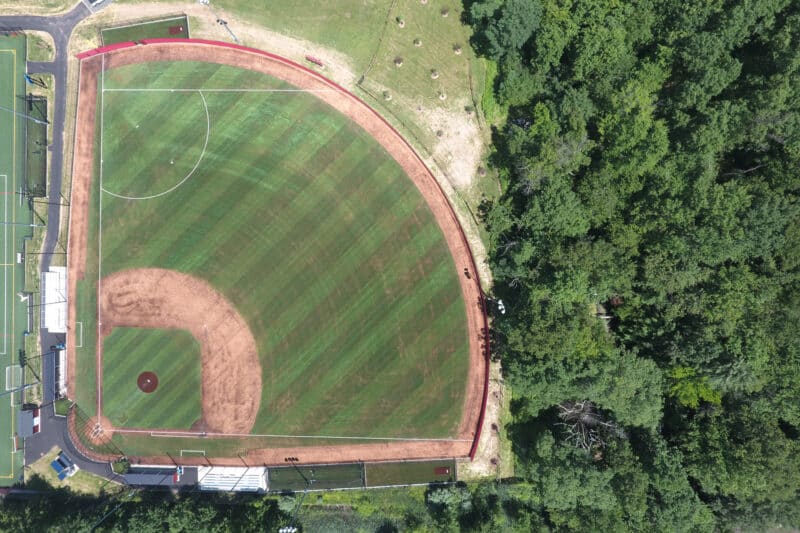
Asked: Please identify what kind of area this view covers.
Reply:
sports ground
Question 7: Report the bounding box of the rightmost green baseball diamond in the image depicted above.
[66,43,488,467]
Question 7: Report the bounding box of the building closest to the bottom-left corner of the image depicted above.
[16,409,41,439]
